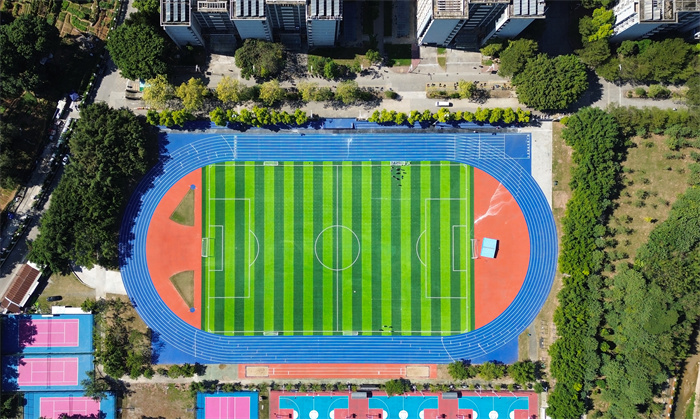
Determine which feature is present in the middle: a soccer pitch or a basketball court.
soccer pitch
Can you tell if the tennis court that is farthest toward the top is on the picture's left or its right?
left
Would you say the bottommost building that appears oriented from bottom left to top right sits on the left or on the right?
left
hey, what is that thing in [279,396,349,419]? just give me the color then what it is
blue basketball court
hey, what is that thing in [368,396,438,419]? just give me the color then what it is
blue basketball court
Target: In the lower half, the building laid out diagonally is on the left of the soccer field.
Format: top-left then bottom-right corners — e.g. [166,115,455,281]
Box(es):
[0,258,50,315]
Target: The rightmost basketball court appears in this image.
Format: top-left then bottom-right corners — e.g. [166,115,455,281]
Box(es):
[458,396,528,419]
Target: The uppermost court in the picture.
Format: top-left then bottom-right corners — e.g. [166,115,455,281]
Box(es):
[1,314,93,353]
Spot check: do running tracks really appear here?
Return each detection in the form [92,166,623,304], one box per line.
[120,133,557,364]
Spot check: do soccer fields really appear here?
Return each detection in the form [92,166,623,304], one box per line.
[202,161,474,336]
